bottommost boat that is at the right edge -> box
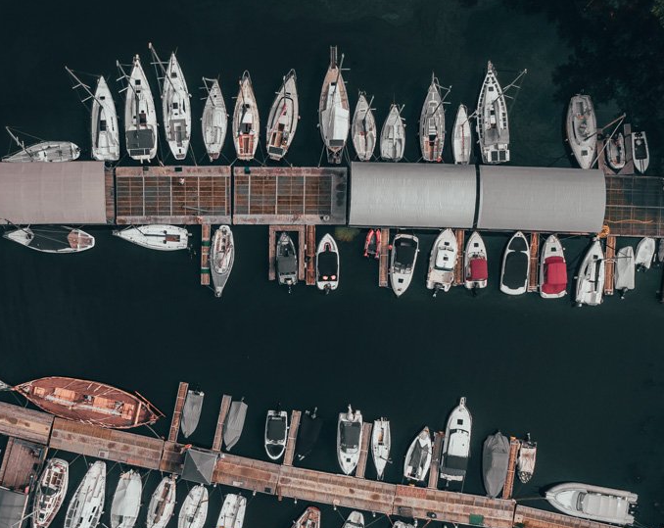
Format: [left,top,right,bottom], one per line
[518,486,648,528]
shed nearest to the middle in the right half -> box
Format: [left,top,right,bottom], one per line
[348,161,476,232]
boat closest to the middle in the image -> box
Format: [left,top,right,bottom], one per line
[316,234,339,297]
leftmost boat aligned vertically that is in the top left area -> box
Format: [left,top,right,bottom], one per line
[64,64,126,171]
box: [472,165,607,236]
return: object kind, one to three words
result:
shed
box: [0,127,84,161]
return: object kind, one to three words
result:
boat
